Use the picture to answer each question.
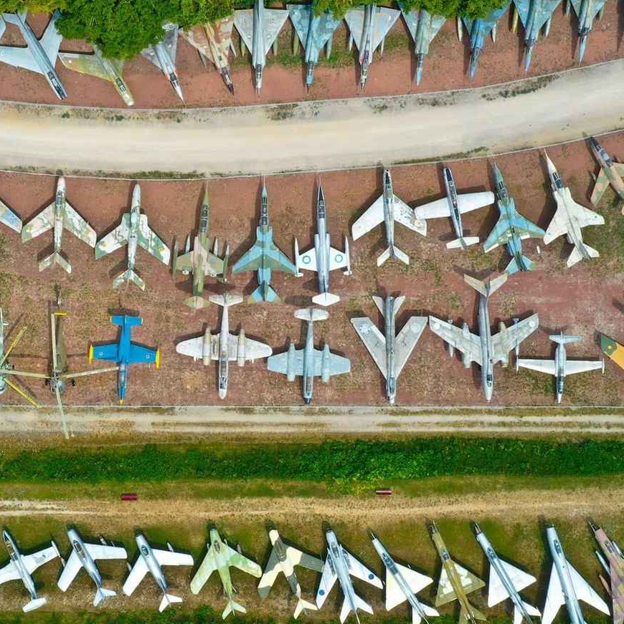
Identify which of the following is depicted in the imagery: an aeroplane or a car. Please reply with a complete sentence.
I can see an aeroplane in this picture.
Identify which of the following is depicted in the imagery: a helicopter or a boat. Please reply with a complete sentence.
It is a helicopter that can be seen here.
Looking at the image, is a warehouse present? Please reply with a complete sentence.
No, I can't see a single warehouse in this photo.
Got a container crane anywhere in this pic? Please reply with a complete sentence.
No, no container crane can be seen from above.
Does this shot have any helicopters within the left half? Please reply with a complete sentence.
Yes, there is a helicopter within the left half.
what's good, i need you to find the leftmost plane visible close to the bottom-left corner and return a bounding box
[0,530,60,613]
